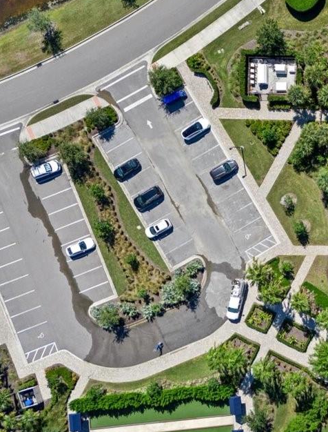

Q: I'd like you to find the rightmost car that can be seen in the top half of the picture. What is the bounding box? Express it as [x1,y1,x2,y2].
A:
[206,161,238,182]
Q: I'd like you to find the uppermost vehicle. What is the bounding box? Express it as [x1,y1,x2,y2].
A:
[157,88,186,107]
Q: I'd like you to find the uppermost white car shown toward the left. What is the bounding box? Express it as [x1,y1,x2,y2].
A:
[28,161,60,180]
